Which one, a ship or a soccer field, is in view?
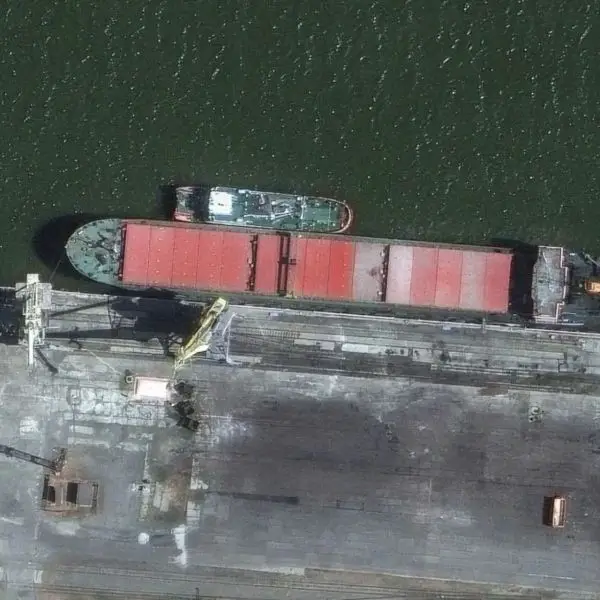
ship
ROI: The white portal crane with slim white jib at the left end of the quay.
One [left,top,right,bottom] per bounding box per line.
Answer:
[15,274,57,368]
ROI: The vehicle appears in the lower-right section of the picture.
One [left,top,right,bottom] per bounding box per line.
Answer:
[552,495,567,527]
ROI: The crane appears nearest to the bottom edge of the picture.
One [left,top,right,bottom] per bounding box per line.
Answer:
[0,446,99,514]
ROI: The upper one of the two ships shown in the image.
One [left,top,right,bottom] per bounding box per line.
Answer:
[174,186,354,232]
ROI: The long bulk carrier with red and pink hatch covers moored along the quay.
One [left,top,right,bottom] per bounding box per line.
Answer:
[66,216,600,326]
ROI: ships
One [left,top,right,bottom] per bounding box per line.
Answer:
[174,186,354,232]
[66,216,600,326]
